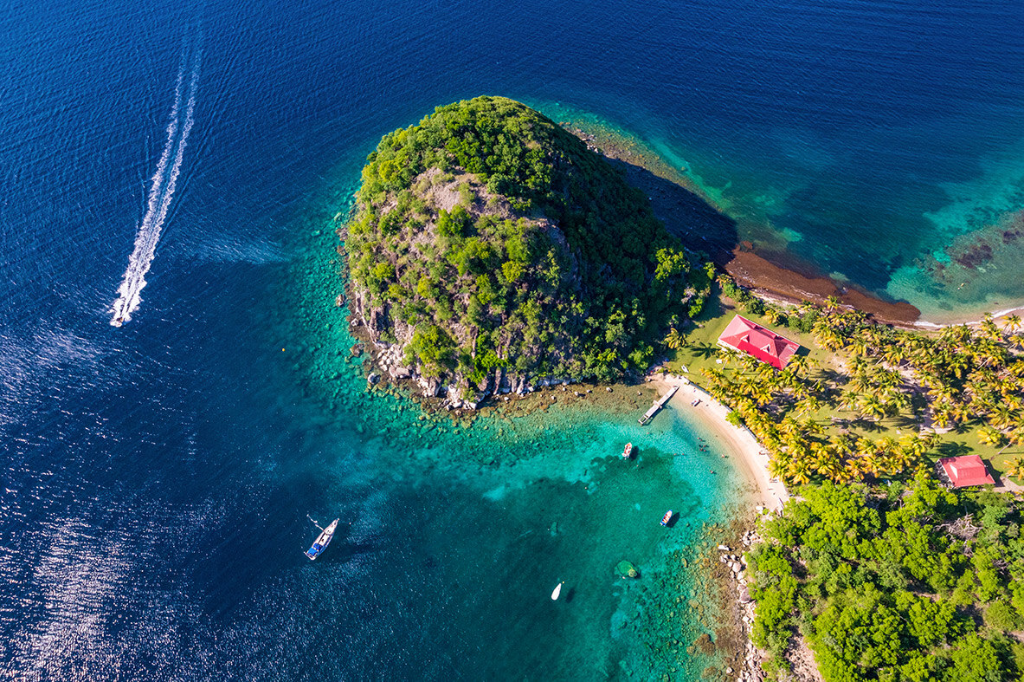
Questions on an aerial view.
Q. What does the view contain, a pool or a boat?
boat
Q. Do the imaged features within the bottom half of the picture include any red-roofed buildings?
Yes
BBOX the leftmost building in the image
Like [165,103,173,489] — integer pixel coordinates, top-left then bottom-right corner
[716,315,799,377]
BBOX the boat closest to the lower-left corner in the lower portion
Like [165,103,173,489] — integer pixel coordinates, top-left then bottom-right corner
[299,506,340,562]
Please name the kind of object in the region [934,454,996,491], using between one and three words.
building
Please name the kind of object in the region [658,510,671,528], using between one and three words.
boat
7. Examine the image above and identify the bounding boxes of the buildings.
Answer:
[716,315,799,377]
[934,454,996,491]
